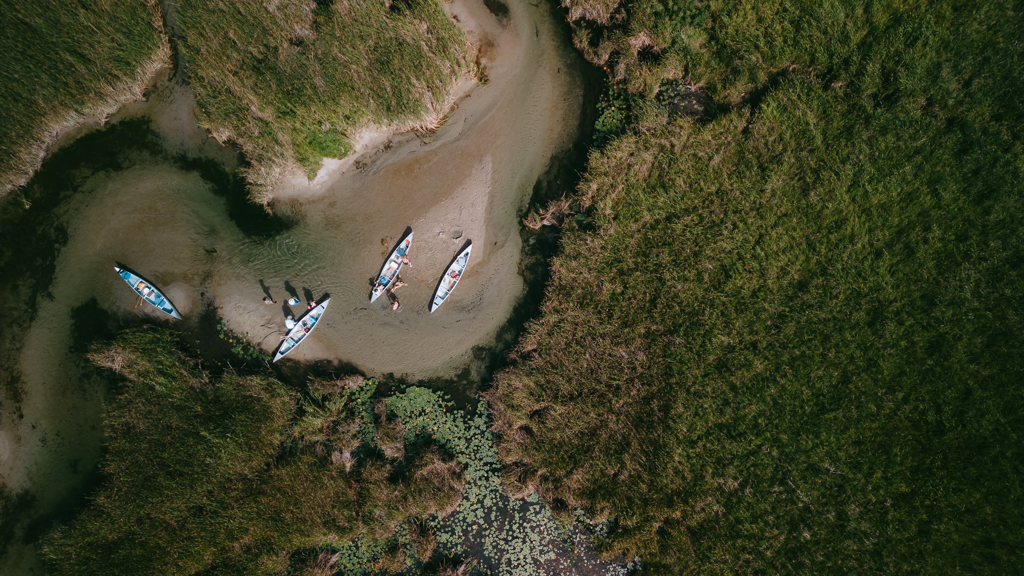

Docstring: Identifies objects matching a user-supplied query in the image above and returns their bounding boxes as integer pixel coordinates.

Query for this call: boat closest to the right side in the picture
[430,244,472,312]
